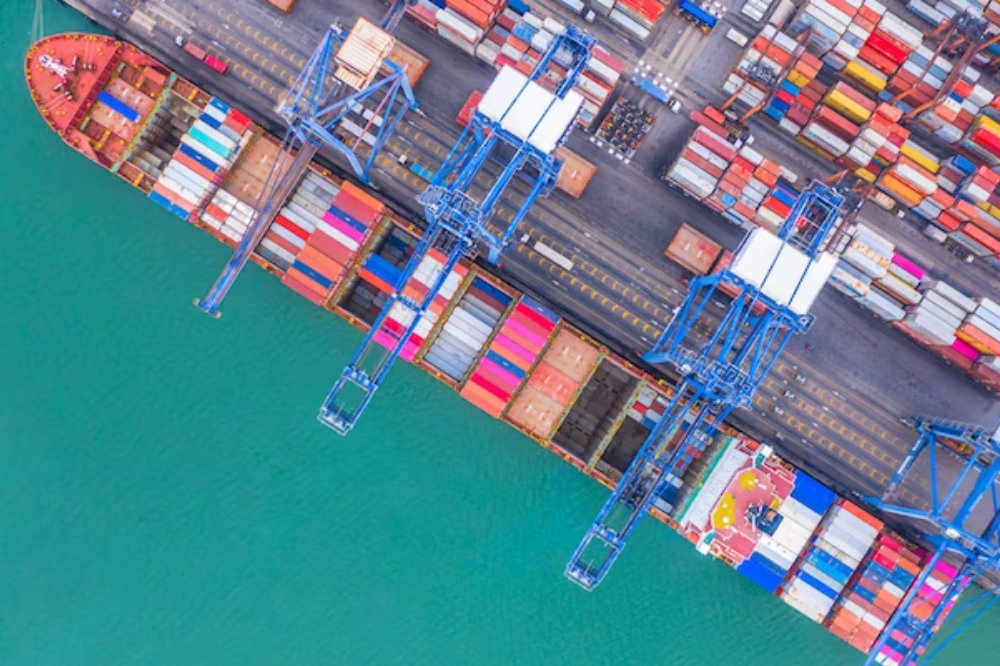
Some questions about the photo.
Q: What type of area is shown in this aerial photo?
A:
port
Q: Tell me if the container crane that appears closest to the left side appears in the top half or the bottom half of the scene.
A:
top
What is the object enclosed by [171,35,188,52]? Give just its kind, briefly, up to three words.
vehicle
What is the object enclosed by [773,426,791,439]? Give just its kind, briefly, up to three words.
vehicle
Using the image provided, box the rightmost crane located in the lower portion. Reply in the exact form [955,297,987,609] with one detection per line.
[849,399,1000,666]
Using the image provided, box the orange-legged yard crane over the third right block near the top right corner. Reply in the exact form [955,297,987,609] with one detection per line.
[890,8,991,125]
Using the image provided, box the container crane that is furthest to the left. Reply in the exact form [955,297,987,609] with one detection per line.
[191,0,433,324]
